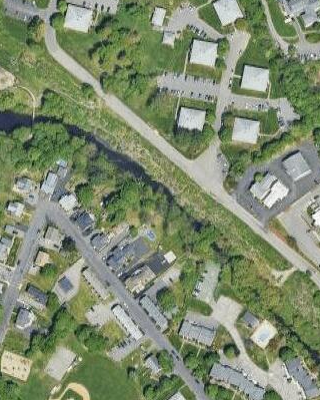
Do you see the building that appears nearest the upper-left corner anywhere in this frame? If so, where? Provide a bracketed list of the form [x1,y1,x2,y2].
[62,3,93,32]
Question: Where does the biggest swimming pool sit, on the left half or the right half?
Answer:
right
